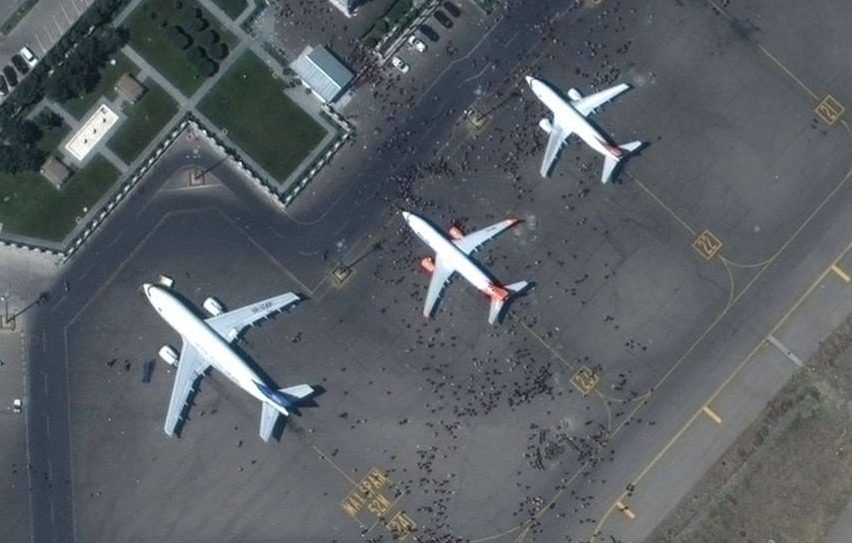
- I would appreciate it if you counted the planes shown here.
three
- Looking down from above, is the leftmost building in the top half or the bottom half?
top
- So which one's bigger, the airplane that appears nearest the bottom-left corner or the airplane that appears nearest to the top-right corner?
the airplane that appears nearest the bottom-left corner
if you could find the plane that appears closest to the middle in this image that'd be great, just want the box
[403,212,530,323]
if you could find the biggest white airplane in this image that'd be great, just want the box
[142,285,315,440]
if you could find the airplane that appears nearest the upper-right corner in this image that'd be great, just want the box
[526,77,642,183]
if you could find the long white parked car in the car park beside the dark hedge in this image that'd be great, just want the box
[20,47,37,67]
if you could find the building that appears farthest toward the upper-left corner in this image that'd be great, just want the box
[113,72,145,106]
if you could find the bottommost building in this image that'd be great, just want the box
[41,155,71,189]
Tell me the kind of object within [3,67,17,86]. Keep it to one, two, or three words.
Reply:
car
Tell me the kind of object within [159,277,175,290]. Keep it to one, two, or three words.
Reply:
vehicle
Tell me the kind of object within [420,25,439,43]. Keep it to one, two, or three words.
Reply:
car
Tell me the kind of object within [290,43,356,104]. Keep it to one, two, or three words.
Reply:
building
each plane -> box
[526,77,642,183]
[142,285,315,440]
[403,212,530,323]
